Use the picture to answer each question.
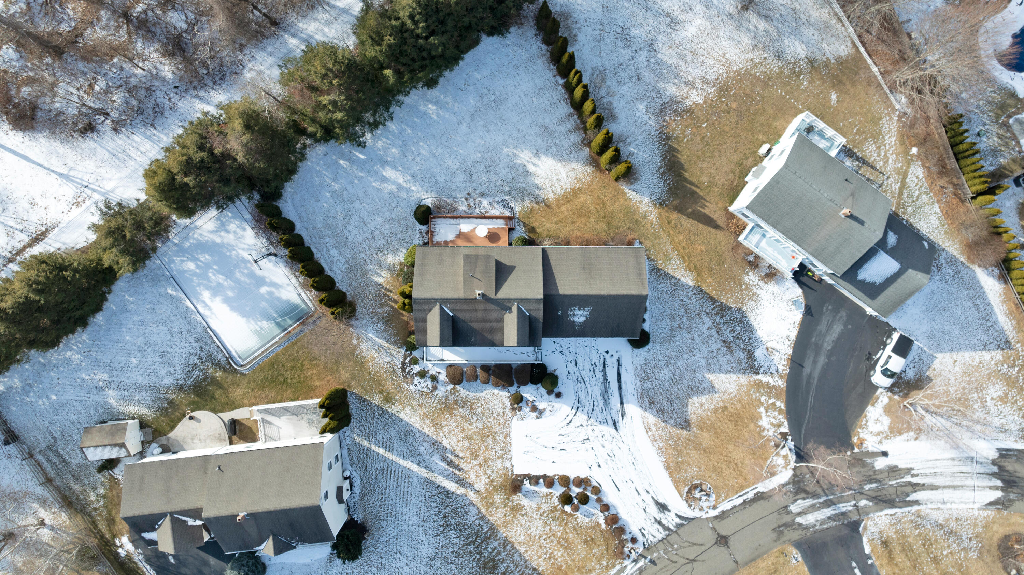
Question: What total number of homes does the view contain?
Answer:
3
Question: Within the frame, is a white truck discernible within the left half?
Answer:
No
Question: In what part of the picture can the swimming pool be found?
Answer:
top right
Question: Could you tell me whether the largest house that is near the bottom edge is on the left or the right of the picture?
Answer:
left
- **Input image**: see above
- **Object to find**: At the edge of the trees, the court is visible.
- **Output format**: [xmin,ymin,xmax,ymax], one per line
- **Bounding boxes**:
[157,203,319,368]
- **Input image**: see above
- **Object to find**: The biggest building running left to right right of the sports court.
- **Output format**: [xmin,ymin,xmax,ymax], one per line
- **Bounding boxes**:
[412,245,648,348]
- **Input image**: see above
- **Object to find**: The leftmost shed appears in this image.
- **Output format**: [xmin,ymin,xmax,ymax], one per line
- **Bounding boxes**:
[80,419,154,461]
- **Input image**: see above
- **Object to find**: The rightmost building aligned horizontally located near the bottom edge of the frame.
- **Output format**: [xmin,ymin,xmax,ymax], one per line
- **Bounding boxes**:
[120,436,353,559]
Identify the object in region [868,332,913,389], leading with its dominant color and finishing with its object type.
white truck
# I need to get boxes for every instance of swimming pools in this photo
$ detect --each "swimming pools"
[994,27,1024,74]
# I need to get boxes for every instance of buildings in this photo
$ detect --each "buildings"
[412,245,648,348]
[120,436,353,559]
[731,132,937,318]
[80,419,154,461]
